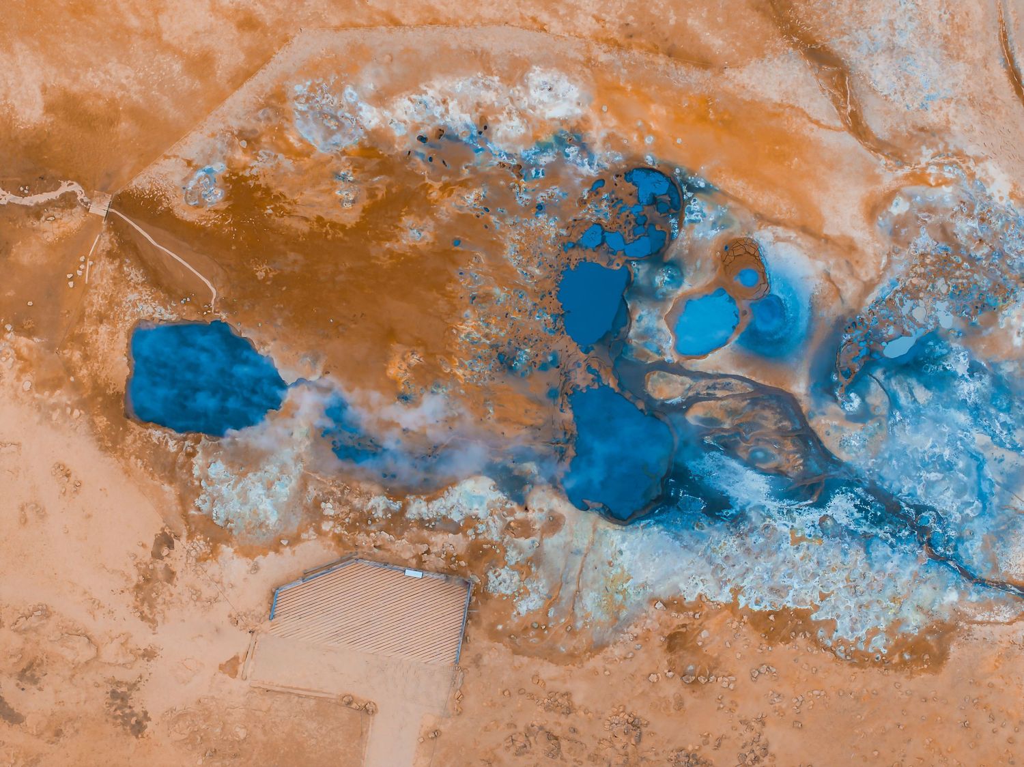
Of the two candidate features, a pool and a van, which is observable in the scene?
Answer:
pool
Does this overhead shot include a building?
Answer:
No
